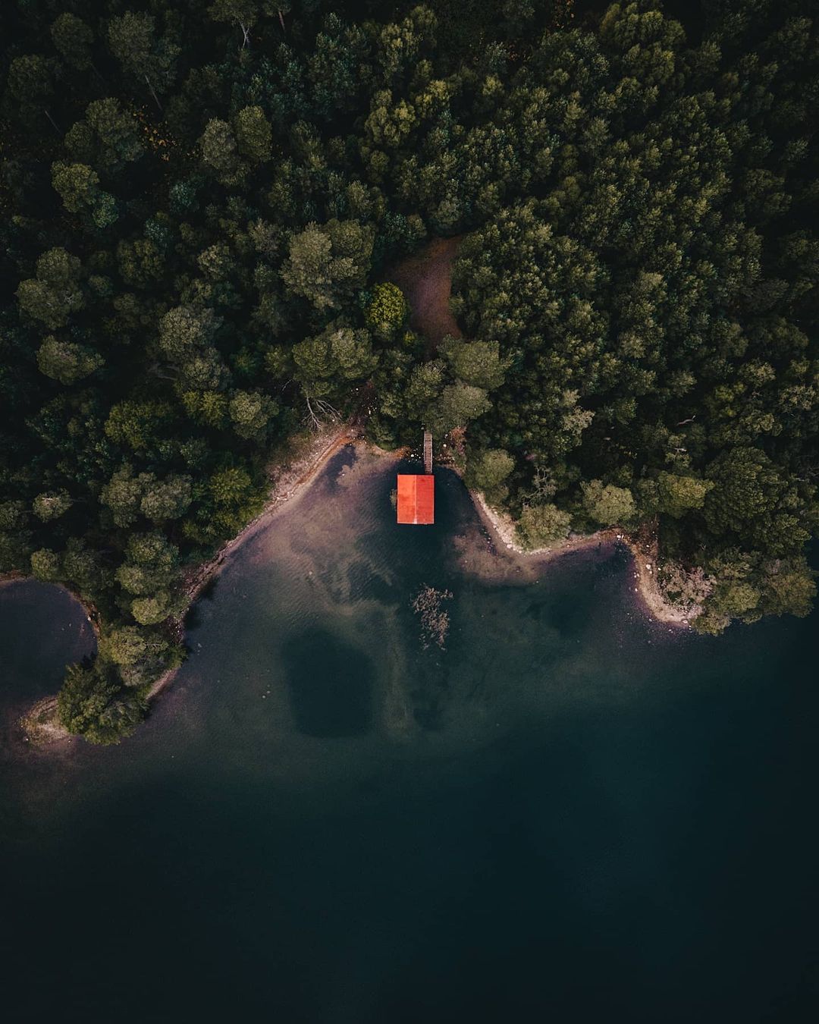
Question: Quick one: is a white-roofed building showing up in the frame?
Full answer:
No, I can see no white-roofed building in this picture.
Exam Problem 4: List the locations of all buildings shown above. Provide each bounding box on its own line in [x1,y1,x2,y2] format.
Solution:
[397,474,434,524]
